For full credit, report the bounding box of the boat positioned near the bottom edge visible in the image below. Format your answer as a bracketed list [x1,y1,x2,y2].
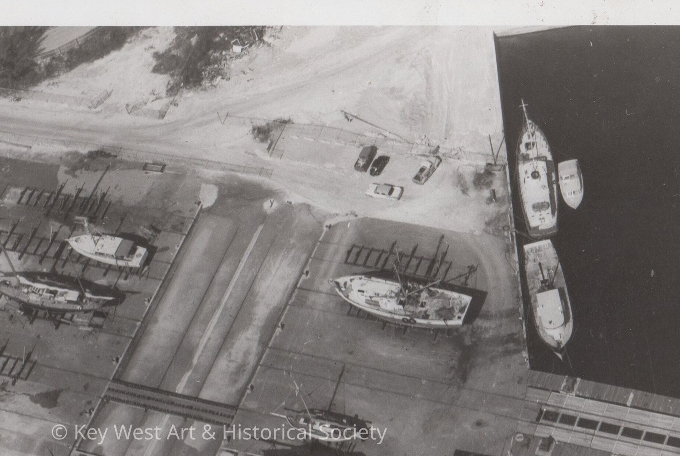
[270,377,371,440]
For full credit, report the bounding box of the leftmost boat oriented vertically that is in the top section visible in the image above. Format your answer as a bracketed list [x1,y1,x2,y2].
[513,97,562,242]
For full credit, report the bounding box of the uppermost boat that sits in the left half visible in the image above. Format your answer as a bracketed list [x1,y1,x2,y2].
[65,216,150,270]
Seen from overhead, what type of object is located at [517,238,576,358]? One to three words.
boat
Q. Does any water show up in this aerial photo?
Yes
